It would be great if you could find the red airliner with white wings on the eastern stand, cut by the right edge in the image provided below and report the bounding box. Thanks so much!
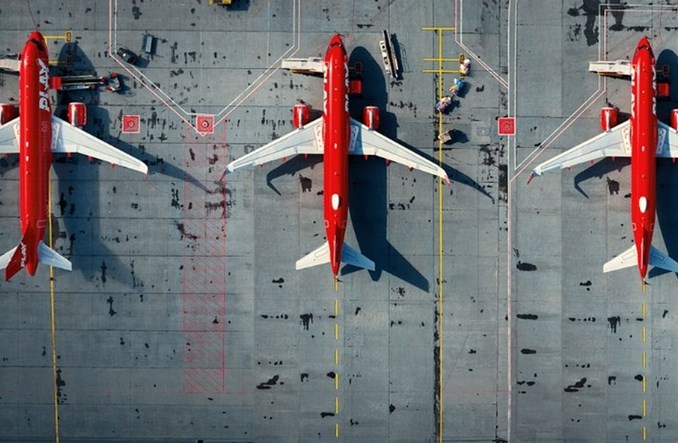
[532,37,678,286]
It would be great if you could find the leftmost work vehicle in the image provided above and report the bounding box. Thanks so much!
[58,74,106,89]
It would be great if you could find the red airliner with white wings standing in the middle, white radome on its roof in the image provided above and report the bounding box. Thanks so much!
[217,34,451,282]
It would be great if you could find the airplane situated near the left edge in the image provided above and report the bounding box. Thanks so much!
[0,32,146,281]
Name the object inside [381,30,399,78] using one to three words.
work vehicle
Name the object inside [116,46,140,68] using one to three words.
car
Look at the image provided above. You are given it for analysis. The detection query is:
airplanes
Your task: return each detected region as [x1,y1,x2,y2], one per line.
[217,34,451,282]
[532,37,678,286]
[0,32,146,281]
